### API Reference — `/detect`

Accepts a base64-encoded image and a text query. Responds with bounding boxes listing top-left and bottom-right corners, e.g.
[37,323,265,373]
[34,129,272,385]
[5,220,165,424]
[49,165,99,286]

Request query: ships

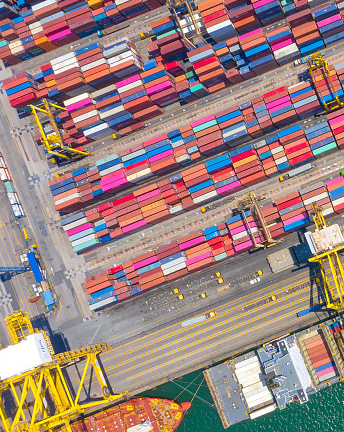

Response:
[203,316,344,427]
[51,397,195,432]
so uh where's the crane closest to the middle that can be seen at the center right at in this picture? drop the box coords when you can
[229,191,284,252]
